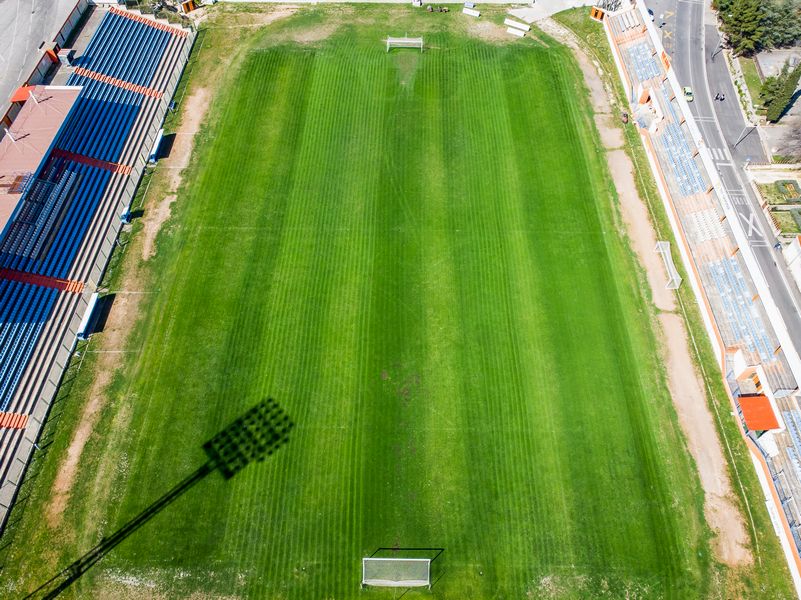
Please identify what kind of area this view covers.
sports ground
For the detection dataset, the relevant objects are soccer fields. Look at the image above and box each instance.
[81,41,722,600]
